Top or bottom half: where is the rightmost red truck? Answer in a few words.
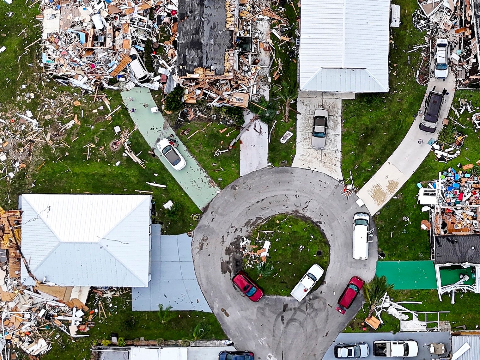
bottom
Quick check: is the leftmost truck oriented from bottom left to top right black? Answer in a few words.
No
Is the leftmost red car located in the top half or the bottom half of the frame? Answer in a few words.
bottom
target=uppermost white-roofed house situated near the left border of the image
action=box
[0,193,153,288]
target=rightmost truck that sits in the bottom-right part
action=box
[372,339,419,360]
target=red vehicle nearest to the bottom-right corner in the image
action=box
[332,273,364,317]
